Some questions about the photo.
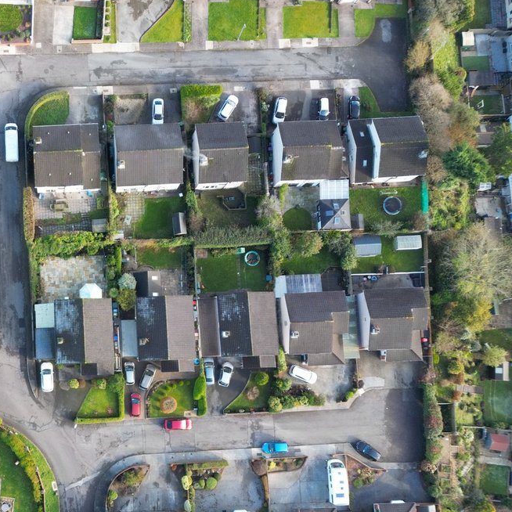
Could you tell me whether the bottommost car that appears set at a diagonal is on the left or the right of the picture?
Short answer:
right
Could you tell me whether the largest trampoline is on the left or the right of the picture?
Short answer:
right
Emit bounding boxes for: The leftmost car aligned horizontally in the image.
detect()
[164,418,192,432]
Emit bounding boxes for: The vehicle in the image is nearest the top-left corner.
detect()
[4,126,19,161]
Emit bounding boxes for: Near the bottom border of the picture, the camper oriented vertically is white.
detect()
[325,456,348,506]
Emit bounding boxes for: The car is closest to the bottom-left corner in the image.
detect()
[41,363,54,391]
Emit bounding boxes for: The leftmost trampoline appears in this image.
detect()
[243,250,261,265]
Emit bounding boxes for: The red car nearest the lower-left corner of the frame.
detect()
[130,393,142,417]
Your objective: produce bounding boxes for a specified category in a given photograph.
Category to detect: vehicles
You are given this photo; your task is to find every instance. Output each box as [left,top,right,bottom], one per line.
[203,360,216,384]
[123,362,135,385]
[218,362,233,386]
[273,98,286,122]
[217,95,238,122]
[41,363,54,391]
[288,364,317,384]
[152,98,164,123]
[325,456,348,506]
[263,443,287,455]
[355,439,381,462]
[164,418,192,432]
[316,96,330,120]
[130,393,142,417]
[4,126,19,161]
[139,363,157,392]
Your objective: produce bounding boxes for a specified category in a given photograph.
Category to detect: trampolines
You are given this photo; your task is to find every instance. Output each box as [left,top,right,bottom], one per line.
[381,195,406,216]
[243,250,261,265]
